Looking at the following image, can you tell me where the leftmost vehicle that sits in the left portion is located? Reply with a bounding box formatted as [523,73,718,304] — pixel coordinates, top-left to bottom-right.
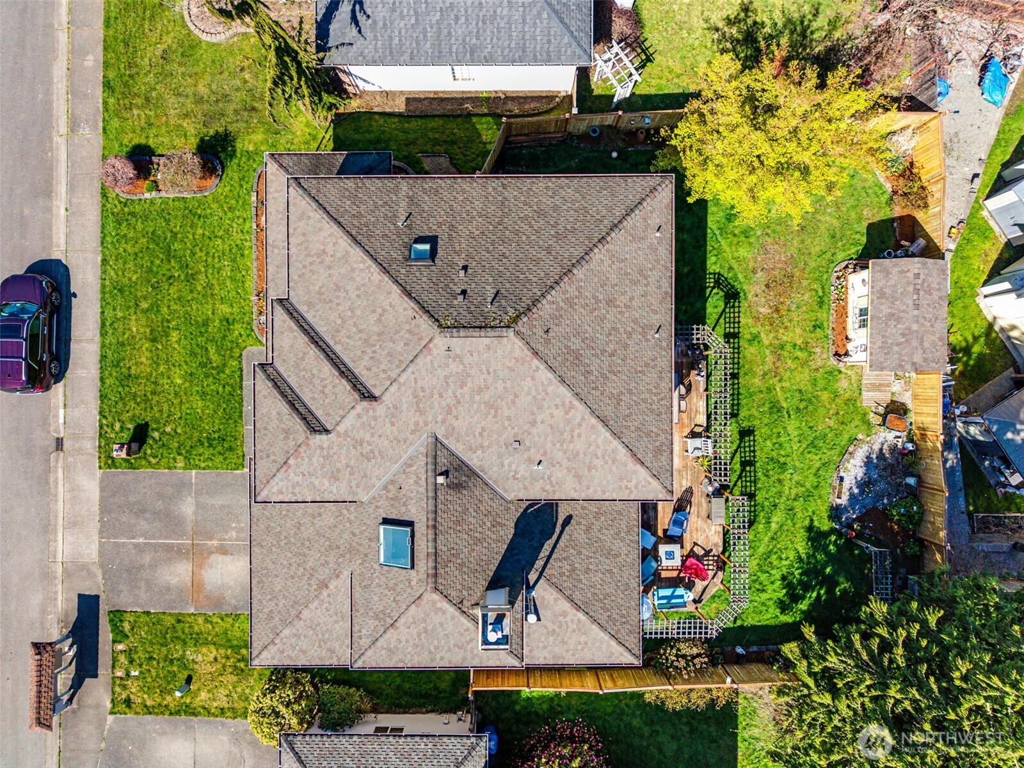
[0,274,61,394]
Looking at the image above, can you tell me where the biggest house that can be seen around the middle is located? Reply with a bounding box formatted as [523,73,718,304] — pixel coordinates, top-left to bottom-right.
[248,151,675,671]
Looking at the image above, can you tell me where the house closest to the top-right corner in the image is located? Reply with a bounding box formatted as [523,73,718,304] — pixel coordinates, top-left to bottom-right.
[984,177,1024,239]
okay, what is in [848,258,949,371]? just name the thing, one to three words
shed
